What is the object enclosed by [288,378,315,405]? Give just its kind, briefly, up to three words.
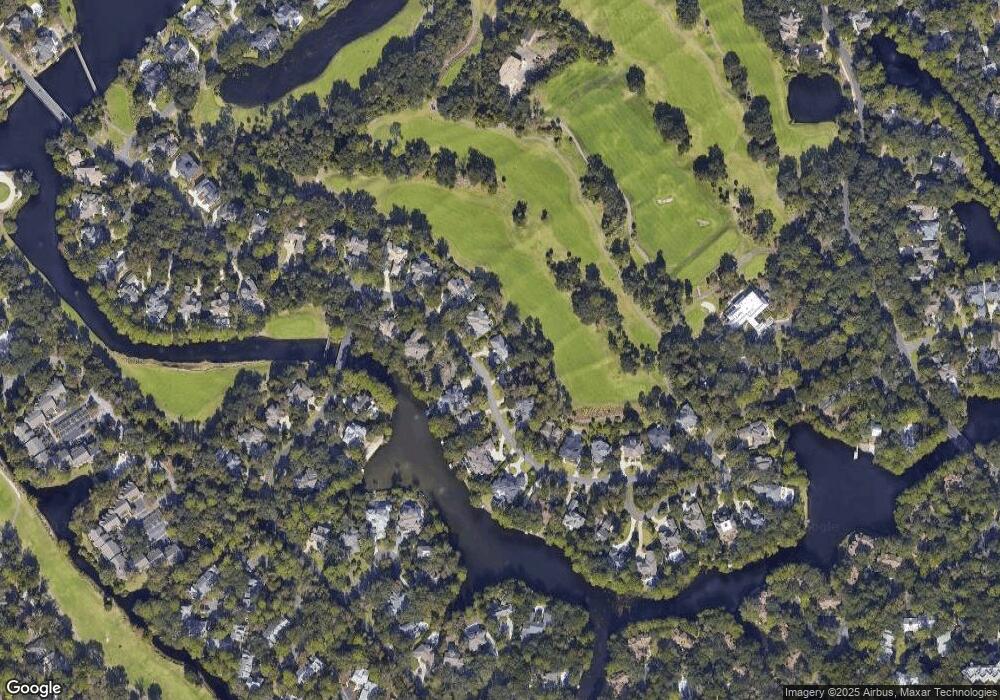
house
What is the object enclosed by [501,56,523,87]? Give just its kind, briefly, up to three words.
shed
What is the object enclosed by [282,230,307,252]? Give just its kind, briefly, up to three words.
house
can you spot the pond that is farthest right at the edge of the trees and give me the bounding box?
[953,201,1000,265]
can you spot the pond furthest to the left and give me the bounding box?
[223,0,409,105]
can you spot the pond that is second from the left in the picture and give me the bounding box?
[788,73,844,123]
